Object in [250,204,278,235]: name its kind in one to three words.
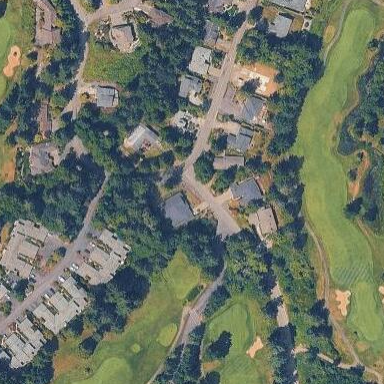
house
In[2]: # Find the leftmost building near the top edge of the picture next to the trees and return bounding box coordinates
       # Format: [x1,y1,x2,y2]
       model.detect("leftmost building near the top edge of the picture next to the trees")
[31,0,62,44]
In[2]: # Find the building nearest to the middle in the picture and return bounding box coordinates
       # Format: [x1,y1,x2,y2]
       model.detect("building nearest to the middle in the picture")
[162,192,196,227]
